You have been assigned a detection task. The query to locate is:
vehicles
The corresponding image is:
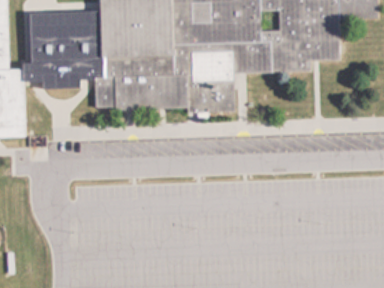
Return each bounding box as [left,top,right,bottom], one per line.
[76,141,82,153]
[61,141,66,153]
[67,140,72,152]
